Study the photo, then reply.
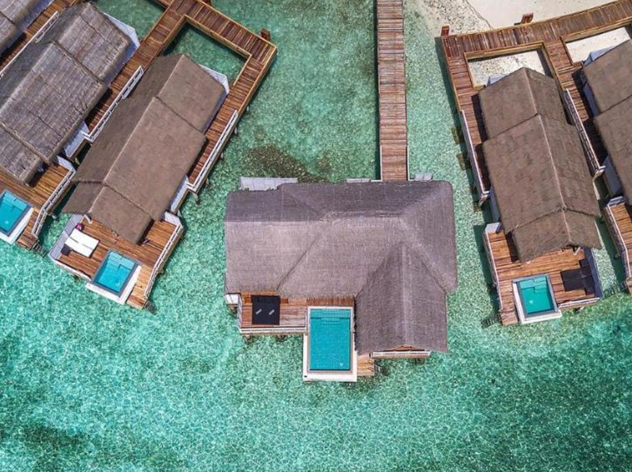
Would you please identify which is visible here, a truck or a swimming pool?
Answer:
swimming pool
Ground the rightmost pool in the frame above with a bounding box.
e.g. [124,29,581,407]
[510,275,562,326]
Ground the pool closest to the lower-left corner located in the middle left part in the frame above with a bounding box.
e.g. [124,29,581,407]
[86,249,145,307]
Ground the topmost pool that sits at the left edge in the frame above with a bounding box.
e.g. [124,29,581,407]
[0,189,37,246]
